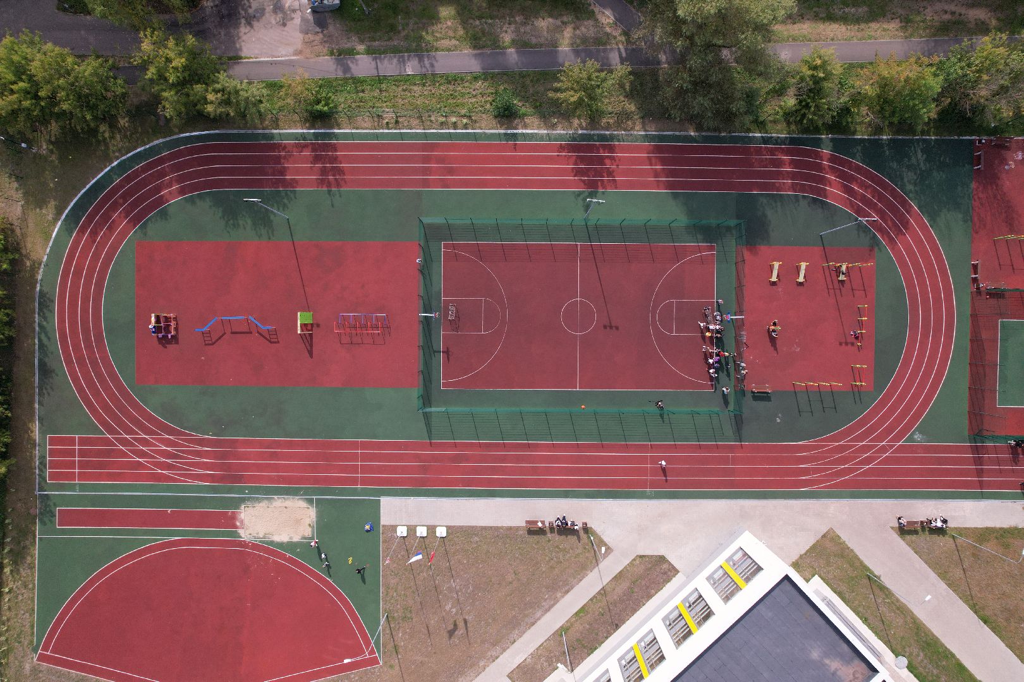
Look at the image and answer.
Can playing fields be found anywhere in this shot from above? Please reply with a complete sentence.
Yes, you can see a playing field in this photo.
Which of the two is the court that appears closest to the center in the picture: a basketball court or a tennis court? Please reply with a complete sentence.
What you see as the court that appears closest to the center is a basketball court.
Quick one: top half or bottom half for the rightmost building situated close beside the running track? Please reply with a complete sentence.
The bottom half of the photo is where the rightmost building situated close beside the running track is.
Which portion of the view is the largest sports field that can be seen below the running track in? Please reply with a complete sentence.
The largest sports field that can be seen below the running track sits in the bottom left section of the image.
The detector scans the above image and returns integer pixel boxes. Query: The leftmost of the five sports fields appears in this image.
[35,493,380,660]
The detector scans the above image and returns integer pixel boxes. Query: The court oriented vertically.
[969,139,1024,436]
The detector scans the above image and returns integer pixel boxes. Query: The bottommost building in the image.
[582,532,896,682]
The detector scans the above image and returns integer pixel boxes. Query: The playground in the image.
[135,241,420,387]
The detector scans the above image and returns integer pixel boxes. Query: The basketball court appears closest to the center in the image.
[441,242,716,391]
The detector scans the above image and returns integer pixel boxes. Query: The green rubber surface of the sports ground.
[36,132,1024,500]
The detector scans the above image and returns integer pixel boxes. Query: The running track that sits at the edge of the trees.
[47,142,1024,495]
